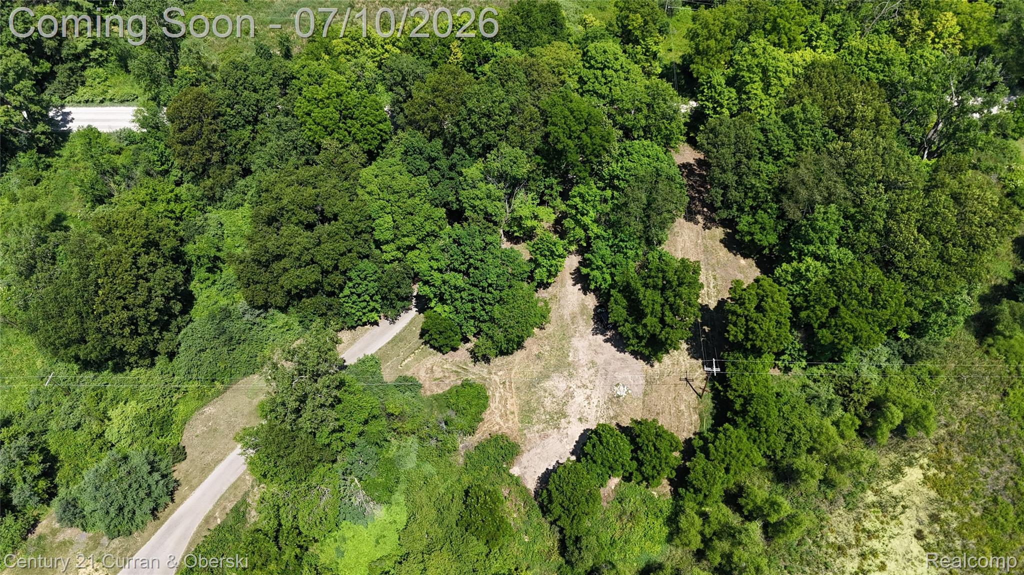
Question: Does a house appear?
No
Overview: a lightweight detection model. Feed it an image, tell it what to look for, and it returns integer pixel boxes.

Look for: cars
[594,309,613,328]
